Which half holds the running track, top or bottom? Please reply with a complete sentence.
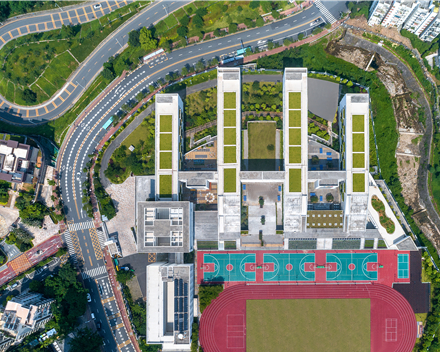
Seen from above, the running track lies in the bottom half of the view.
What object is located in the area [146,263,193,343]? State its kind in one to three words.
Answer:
building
